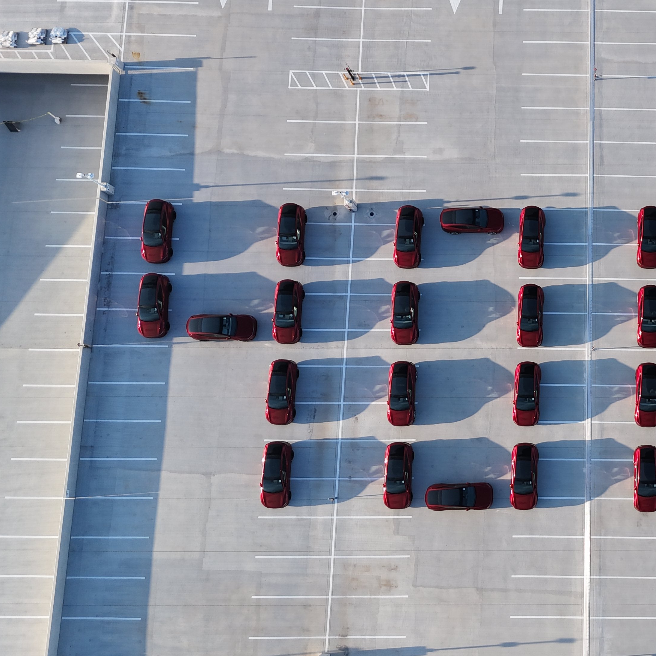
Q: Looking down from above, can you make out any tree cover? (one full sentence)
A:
No, the scene doesn't show any tree cover.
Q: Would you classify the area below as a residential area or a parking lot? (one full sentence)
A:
The picture captures a parking lot.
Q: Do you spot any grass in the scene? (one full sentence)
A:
No, the scene doesn't show any grass.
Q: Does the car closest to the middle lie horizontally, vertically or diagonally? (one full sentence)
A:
The car closest to the middle is oriented vertically.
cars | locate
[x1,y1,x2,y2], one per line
[509,442,538,510]
[186,313,256,342]
[635,362,656,427]
[636,205,656,269]
[388,281,420,345]
[512,361,542,426]
[516,283,544,347]
[425,483,493,512]
[270,280,304,343]
[392,205,424,269]
[135,274,172,337]
[138,199,177,263]
[636,284,656,348]
[632,446,656,512]
[257,441,294,509]
[274,203,308,267]
[517,205,545,269]
[385,361,418,426]
[263,360,300,425]
[381,442,414,509]
[440,205,504,236]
